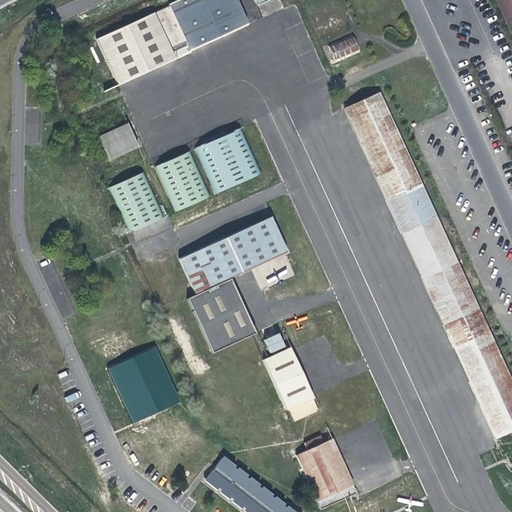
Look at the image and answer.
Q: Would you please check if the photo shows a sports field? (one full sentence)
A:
No, I can see no sports field in this picture.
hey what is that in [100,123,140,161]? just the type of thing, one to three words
building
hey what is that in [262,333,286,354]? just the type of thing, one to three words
shed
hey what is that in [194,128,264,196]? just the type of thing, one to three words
hangar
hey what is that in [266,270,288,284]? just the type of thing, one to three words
airplane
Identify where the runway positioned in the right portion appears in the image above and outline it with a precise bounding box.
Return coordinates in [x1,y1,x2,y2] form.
[281,107,506,512]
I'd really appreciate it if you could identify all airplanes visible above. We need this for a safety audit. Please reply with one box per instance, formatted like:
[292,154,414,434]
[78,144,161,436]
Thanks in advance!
[397,497,424,512]
[286,316,308,330]
[266,270,288,284]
